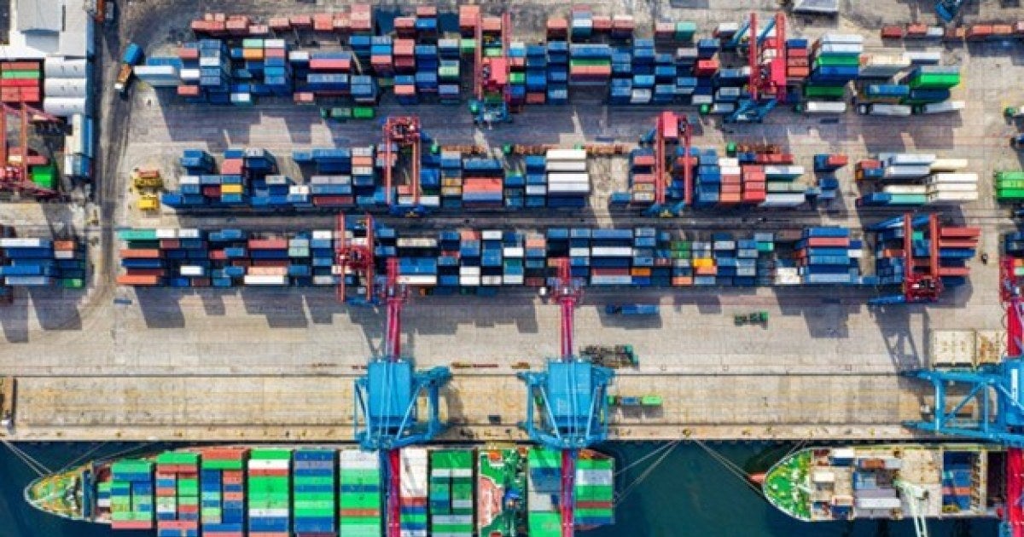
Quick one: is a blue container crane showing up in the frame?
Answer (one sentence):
Yes, a blue container crane can be made out from above.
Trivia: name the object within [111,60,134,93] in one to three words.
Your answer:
truck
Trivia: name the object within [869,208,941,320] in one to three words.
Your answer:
container crane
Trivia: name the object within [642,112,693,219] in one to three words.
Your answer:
container crane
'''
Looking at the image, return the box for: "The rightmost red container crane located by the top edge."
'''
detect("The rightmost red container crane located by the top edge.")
[726,12,785,125]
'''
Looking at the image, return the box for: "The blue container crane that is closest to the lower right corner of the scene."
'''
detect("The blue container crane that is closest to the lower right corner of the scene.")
[889,255,1024,537]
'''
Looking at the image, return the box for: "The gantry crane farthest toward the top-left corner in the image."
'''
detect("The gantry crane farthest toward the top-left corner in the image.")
[0,93,68,199]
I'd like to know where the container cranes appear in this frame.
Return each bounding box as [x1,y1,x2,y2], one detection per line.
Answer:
[642,112,693,219]
[383,113,430,220]
[0,93,68,199]
[518,258,607,537]
[869,208,941,320]
[889,255,1024,537]
[473,11,514,124]
[354,258,452,537]
[726,12,785,125]
[336,205,387,303]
